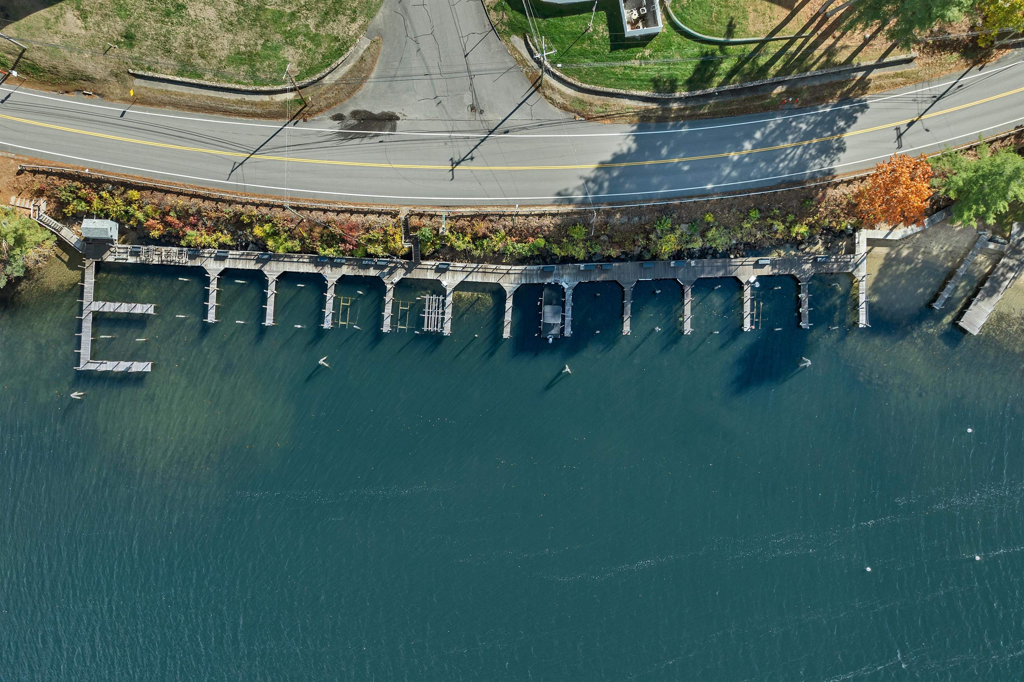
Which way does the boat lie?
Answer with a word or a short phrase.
from top to bottom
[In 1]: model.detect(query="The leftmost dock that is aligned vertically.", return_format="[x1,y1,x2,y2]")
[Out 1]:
[72,260,104,369]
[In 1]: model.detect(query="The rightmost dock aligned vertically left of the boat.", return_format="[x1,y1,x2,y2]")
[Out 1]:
[499,283,523,338]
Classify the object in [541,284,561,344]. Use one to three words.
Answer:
boat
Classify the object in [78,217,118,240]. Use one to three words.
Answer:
shed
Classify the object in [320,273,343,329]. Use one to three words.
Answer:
pier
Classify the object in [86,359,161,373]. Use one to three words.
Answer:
pier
